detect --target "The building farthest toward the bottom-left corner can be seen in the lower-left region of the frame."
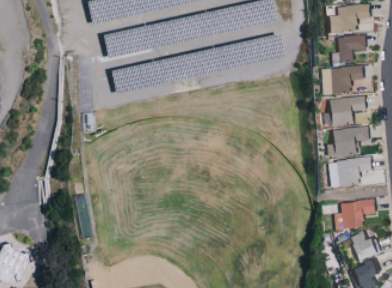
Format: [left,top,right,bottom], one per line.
[0,243,30,283]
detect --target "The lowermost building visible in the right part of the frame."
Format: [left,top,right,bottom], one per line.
[354,256,382,288]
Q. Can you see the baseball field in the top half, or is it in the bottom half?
bottom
